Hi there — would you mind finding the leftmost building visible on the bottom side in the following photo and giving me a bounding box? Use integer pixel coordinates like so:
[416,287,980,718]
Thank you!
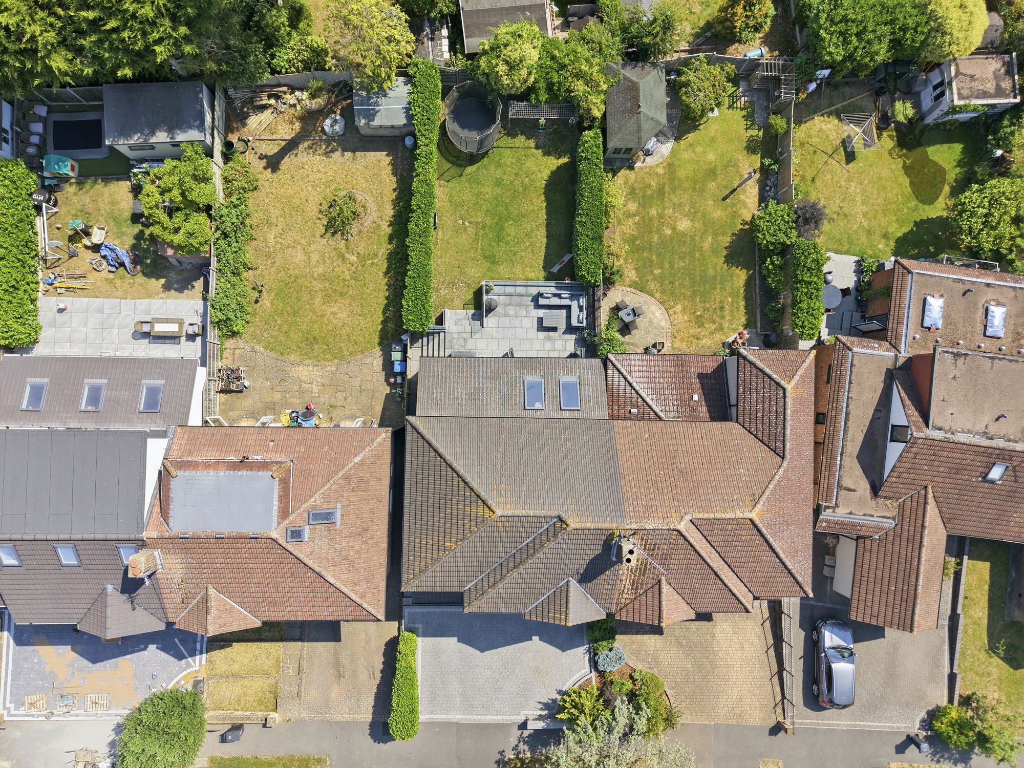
[0,353,205,639]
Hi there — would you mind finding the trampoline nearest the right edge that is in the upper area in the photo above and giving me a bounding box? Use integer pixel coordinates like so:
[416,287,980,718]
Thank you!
[439,86,500,162]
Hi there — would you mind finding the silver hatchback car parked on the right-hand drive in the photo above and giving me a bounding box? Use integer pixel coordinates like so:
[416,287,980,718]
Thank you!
[806,616,859,712]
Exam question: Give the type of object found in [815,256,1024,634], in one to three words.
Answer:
house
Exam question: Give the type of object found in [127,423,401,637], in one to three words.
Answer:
house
